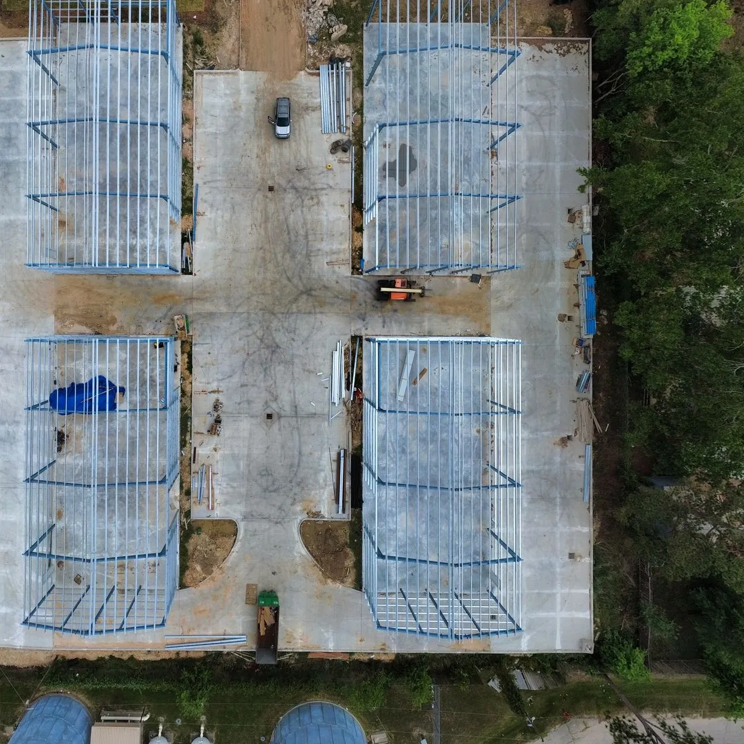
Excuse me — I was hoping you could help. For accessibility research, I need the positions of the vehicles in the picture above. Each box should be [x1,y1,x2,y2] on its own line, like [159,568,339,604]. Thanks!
[378,278,429,302]
[264,98,291,139]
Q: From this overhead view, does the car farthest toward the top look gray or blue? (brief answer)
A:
gray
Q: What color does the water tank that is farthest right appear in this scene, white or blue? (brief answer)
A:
blue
